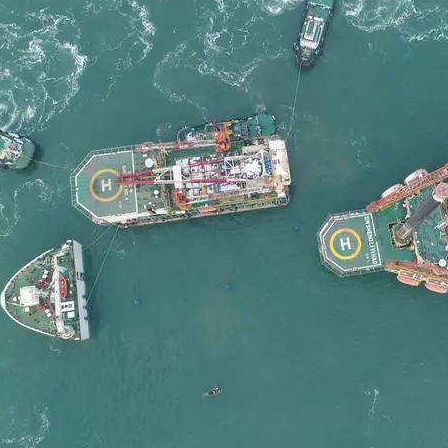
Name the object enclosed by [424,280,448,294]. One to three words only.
boat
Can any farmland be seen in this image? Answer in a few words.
No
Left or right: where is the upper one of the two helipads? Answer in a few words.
left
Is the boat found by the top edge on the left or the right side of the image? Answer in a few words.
right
